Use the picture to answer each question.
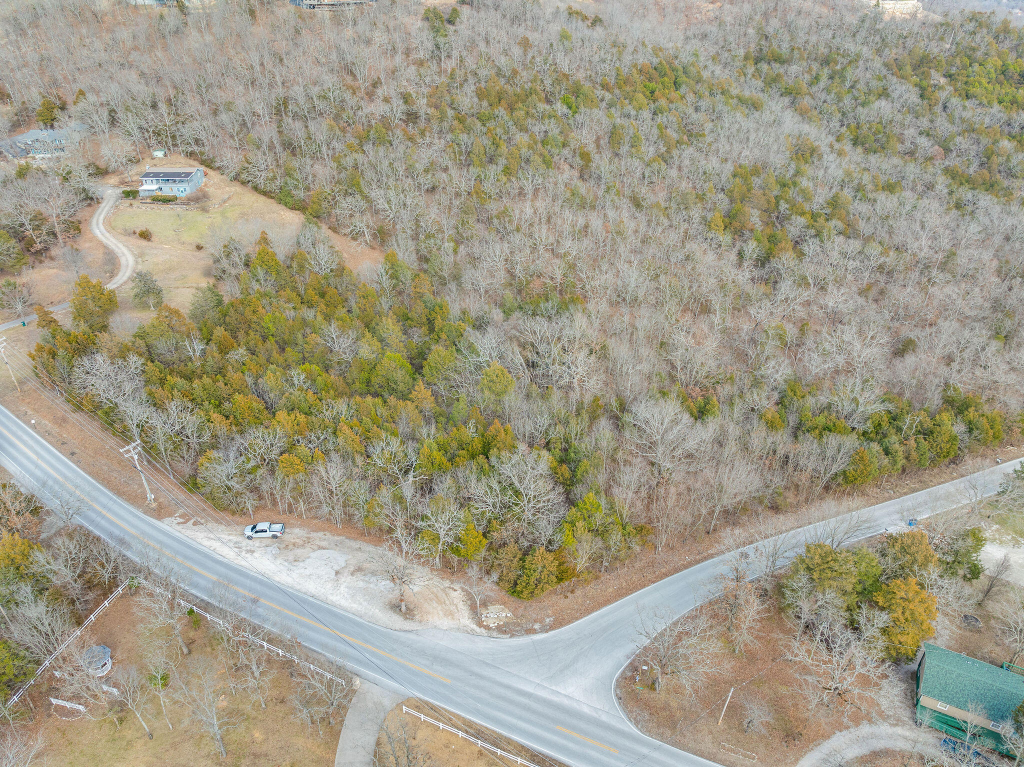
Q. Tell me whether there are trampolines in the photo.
No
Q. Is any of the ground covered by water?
No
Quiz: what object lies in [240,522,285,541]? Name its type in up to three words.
vehicle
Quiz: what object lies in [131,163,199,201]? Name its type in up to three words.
house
